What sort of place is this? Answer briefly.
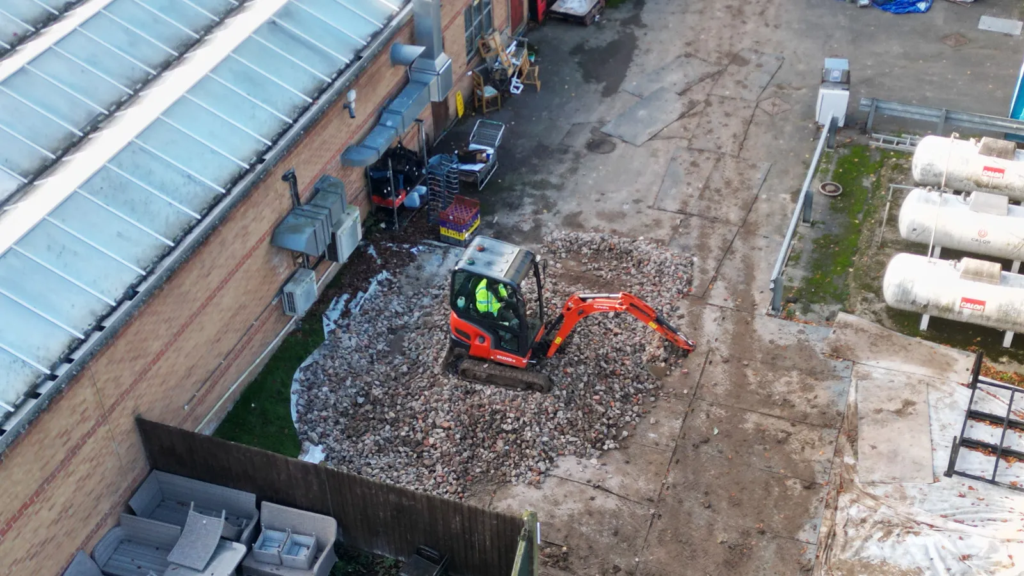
industrial area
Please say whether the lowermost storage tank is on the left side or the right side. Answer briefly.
right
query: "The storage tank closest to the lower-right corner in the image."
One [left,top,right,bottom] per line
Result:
[884,251,1024,358]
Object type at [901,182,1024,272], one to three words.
storage tank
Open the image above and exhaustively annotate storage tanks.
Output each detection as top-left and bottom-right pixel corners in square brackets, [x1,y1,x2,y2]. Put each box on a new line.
[916,123,1024,199]
[884,251,1024,358]
[901,182,1024,272]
